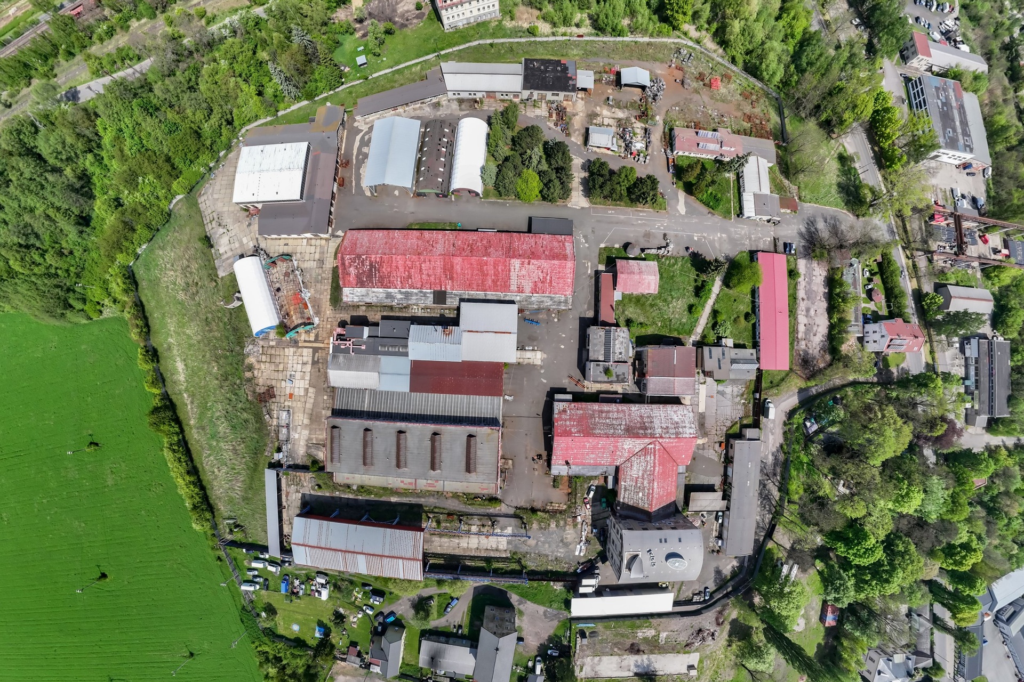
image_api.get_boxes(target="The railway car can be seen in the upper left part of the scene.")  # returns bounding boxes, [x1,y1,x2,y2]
[71,7,92,23]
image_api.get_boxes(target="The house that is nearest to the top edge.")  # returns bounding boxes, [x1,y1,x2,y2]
[437,0,499,32]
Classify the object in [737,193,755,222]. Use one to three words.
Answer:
building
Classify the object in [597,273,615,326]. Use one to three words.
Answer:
shed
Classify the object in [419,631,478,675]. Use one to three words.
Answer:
house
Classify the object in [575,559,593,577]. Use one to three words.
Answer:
vehicle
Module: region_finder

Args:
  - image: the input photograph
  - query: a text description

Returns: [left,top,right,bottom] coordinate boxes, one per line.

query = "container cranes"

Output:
[904,207,1024,271]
